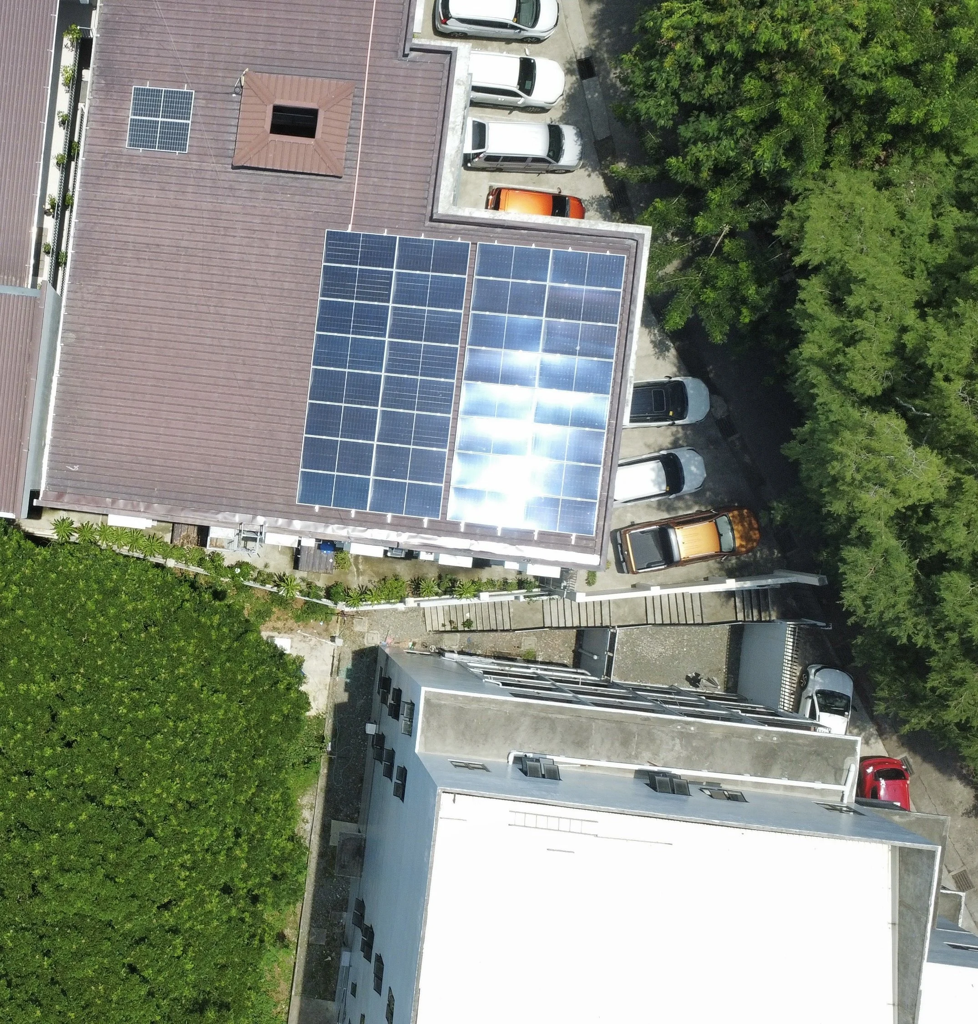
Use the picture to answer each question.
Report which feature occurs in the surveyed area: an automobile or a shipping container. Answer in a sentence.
Looking from above, you can make out an automobile.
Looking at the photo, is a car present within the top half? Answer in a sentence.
Yes, a car shows up within the top half.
